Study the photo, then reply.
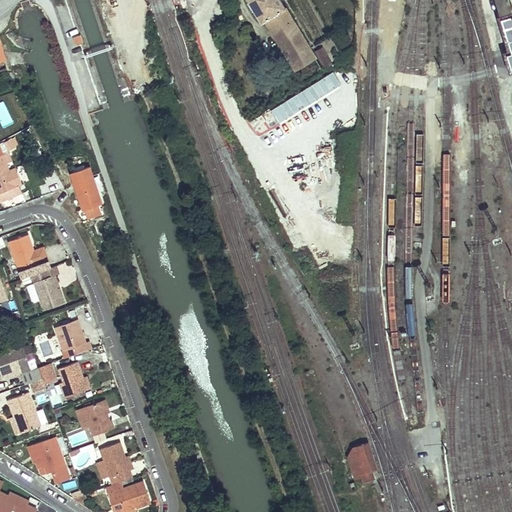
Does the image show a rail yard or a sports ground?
rail yard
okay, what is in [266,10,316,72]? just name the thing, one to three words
barn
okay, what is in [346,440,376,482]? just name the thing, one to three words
building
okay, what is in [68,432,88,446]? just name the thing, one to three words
swimming pool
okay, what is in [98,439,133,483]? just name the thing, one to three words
house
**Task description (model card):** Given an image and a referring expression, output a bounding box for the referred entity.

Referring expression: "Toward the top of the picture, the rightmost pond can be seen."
[18,5,84,138]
